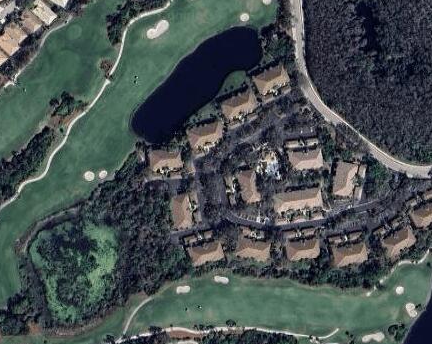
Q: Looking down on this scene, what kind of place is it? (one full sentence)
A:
The area seen from above is a golf course.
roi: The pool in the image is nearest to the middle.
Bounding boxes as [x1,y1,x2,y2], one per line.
[262,151,280,179]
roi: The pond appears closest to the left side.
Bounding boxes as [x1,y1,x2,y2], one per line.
[31,224,118,322]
